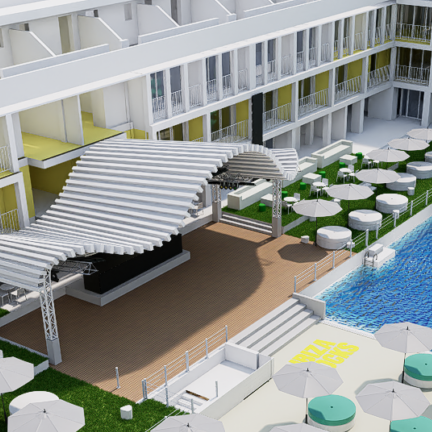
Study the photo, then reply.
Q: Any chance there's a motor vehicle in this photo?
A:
No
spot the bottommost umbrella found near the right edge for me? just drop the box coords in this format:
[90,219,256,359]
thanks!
[355,383,430,432]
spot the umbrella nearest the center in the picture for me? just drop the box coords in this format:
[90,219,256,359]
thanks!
[292,201,343,247]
